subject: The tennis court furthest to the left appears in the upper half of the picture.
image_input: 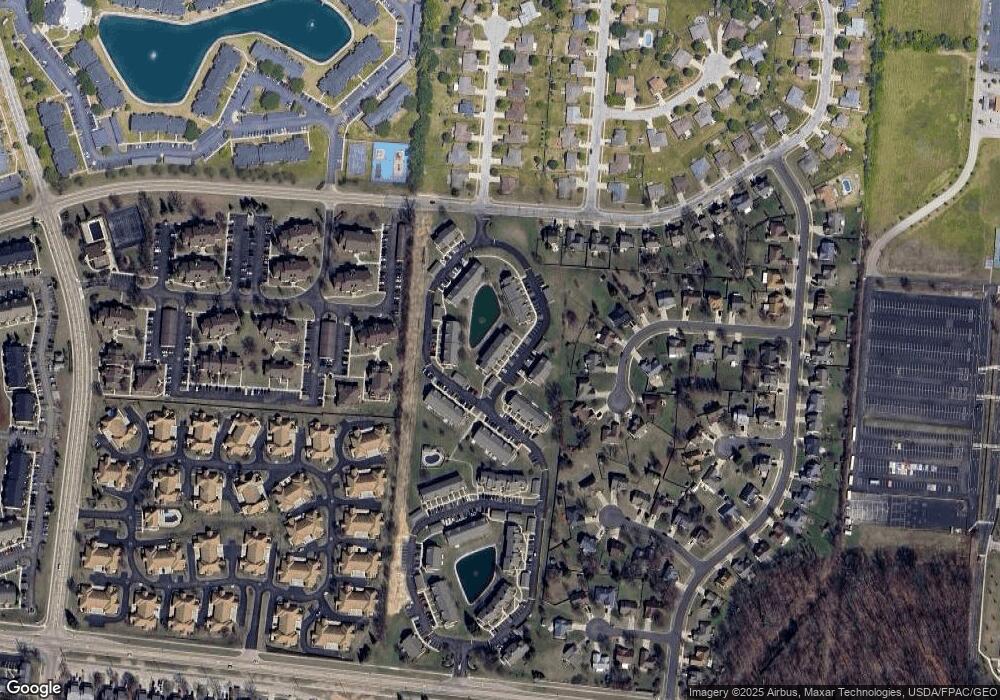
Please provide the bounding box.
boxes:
[107,209,145,249]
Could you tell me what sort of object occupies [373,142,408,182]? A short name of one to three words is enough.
sports court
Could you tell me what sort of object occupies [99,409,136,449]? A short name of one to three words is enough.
building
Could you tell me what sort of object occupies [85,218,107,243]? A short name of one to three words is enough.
swimming pool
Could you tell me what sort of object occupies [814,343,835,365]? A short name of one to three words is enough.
house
